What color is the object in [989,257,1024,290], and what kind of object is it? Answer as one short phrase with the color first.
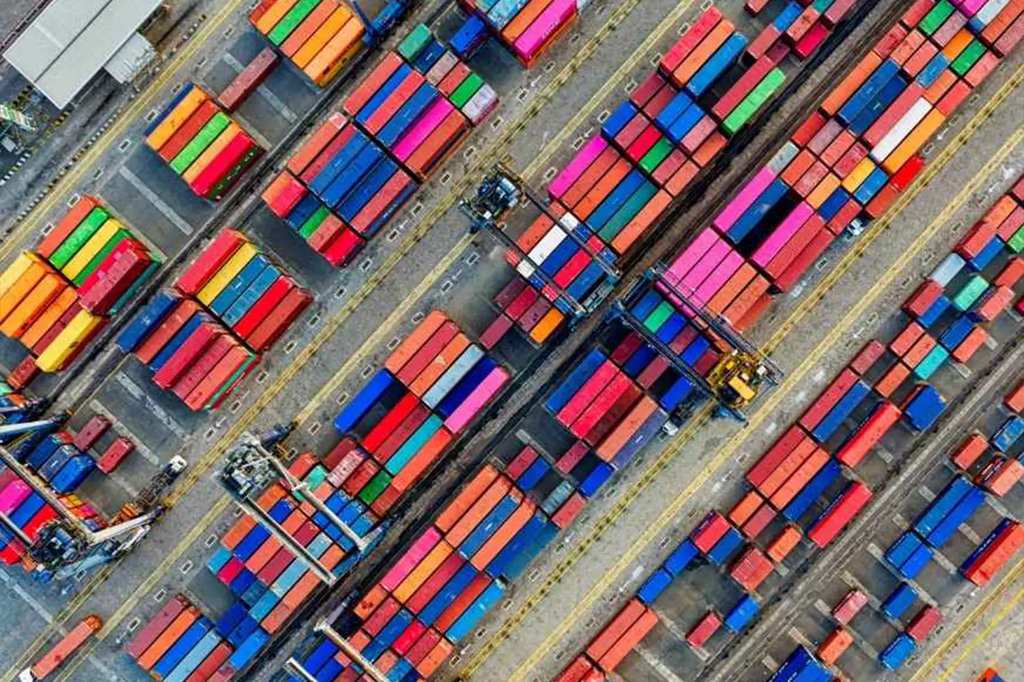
red shipping container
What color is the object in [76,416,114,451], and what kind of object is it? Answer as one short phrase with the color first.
red shipping container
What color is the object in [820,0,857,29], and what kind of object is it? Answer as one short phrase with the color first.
pink shipping container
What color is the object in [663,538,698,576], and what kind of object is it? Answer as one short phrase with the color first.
blue shipping container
